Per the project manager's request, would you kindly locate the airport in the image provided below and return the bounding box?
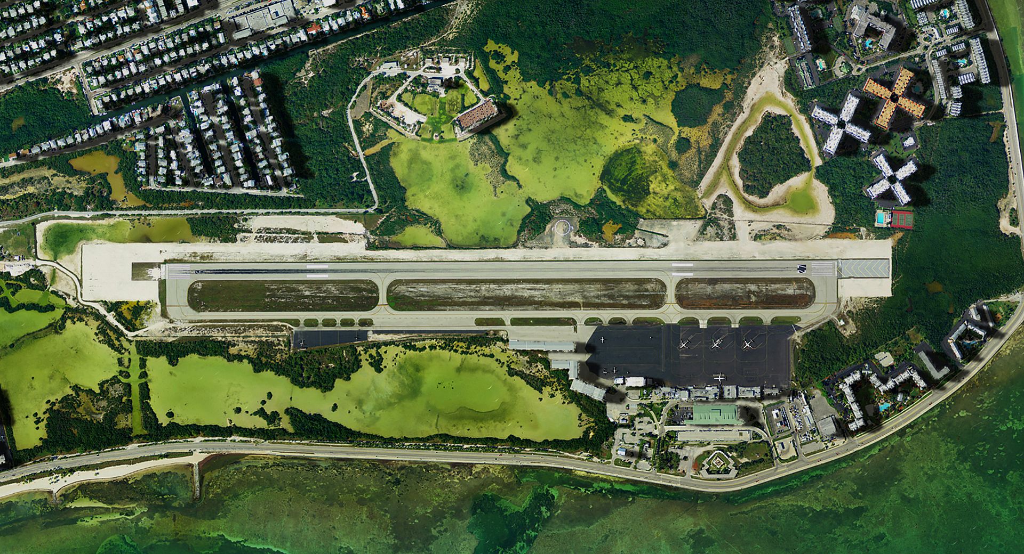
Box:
[166,258,890,387]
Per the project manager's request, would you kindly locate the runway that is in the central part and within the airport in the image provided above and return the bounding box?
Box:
[166,259,836,279]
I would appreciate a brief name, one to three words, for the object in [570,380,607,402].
hangar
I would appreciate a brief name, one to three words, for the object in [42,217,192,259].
pond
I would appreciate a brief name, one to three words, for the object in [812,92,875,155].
building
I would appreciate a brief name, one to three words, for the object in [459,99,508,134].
building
